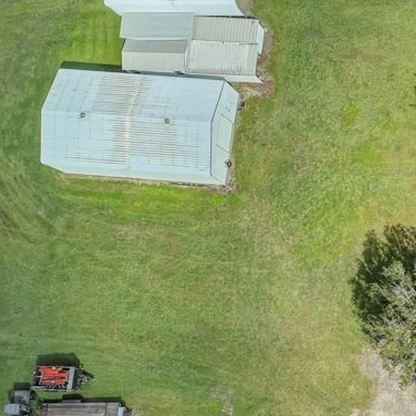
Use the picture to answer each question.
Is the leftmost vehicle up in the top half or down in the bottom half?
bottom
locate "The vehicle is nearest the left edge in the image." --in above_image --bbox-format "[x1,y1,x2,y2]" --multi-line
[4,385,41,416]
